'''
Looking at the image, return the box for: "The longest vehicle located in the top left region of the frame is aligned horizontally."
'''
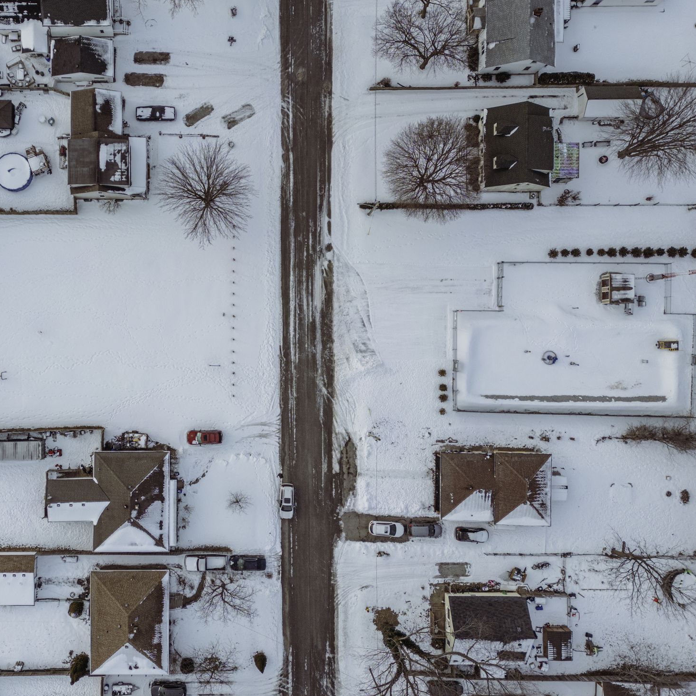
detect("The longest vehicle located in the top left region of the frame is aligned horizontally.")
[136,101,175,121]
